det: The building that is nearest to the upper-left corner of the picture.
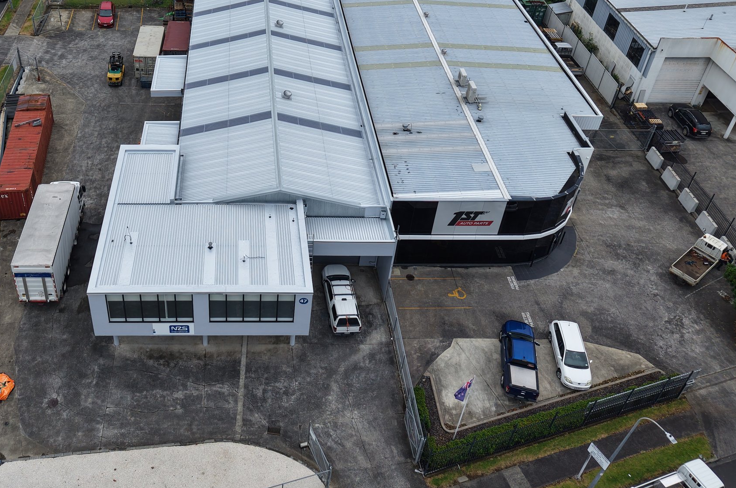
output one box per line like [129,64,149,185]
[85,0,399,346]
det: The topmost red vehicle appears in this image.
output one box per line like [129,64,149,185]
[96,0,115,24]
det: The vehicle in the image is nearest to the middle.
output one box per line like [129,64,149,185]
[325,262,363,331]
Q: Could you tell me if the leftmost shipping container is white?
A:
No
